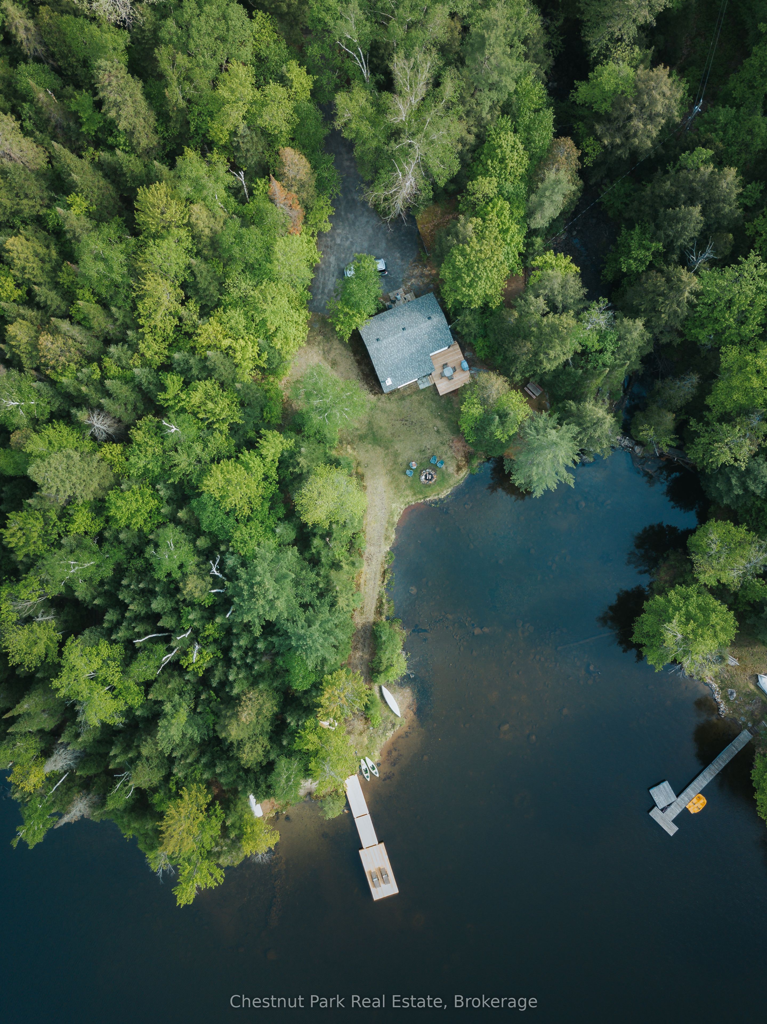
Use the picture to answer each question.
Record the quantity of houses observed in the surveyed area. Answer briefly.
1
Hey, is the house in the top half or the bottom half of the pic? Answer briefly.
top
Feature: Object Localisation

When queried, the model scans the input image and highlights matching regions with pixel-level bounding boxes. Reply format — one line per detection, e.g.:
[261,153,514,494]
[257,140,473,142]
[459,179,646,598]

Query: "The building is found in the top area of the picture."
[360,292,454,394]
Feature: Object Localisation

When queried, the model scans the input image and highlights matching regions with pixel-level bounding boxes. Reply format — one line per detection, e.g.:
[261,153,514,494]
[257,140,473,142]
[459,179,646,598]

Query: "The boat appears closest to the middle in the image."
[381,685,401,718]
